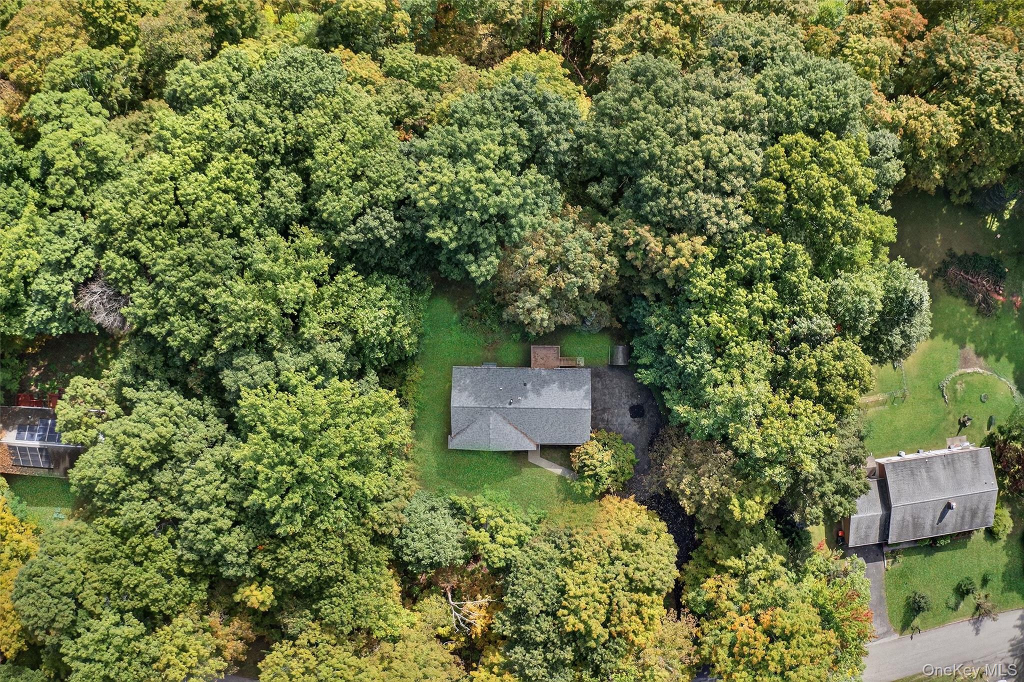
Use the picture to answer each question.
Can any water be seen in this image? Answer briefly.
No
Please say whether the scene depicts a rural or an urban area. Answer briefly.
rural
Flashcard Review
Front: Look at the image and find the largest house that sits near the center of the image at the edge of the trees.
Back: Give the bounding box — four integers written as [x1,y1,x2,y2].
[448,363,592,452]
